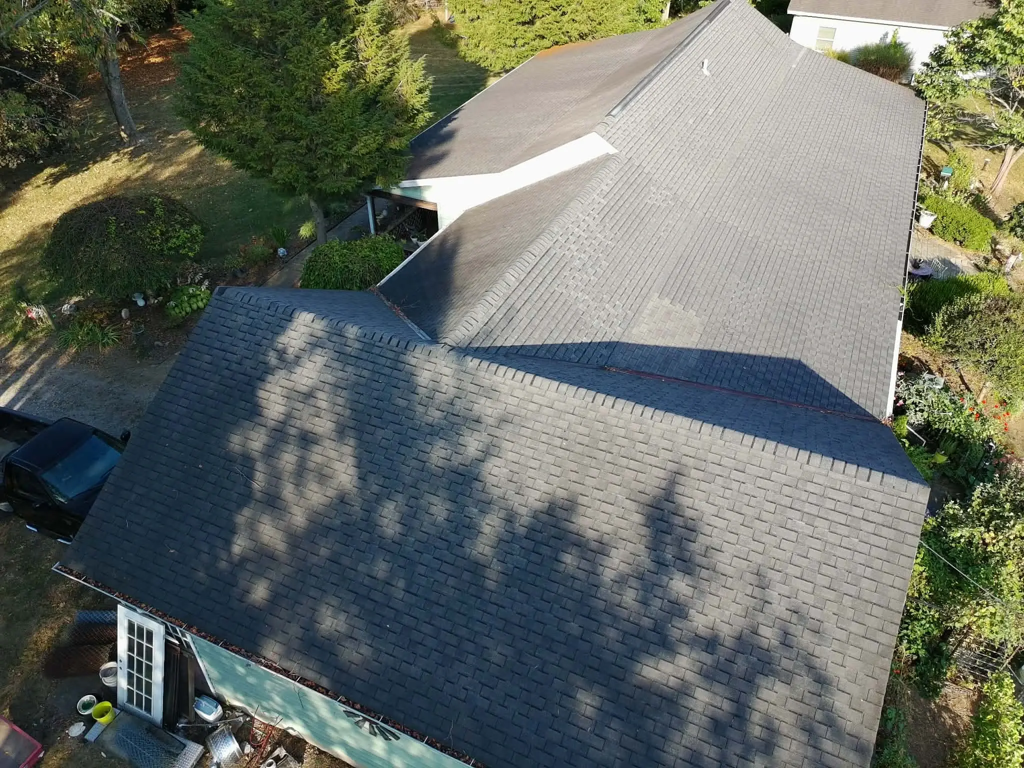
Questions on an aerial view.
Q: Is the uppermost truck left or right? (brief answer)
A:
left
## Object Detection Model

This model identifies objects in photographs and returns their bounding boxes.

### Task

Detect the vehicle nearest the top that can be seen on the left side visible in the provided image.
[0,390,126,547]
